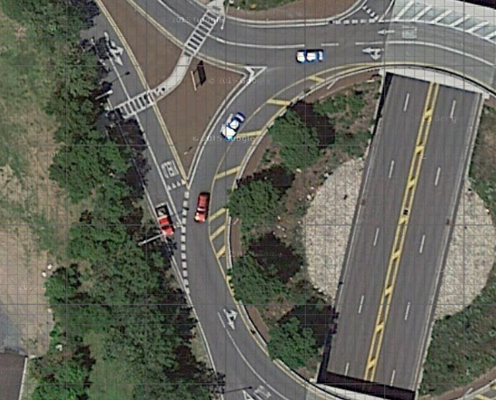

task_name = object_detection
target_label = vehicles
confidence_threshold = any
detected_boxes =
[156,203,175,233]
[222,111,246,139]
[296,50,322,62]
[195,192,209,223]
